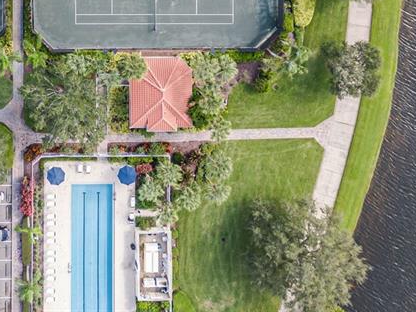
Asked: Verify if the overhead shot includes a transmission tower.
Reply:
No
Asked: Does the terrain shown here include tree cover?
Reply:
Yes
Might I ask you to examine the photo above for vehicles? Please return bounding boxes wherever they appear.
[0,226,10,244]
[0,189,6,203]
